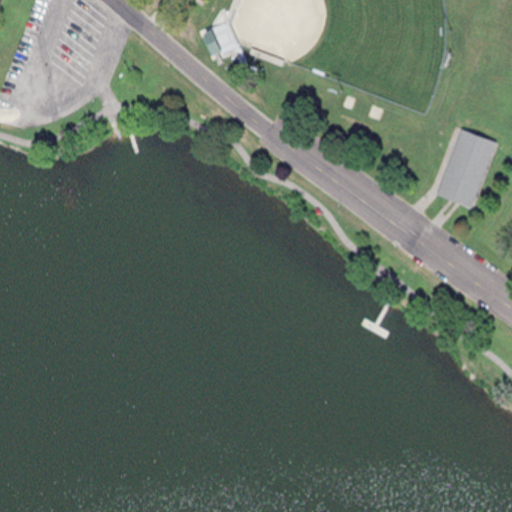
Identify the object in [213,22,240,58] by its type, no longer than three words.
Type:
building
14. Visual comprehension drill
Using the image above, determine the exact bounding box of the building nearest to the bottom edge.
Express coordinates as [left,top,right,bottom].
[437,128,498,208]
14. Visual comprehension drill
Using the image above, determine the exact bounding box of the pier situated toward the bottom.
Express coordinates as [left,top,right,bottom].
[362,304,390,340]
